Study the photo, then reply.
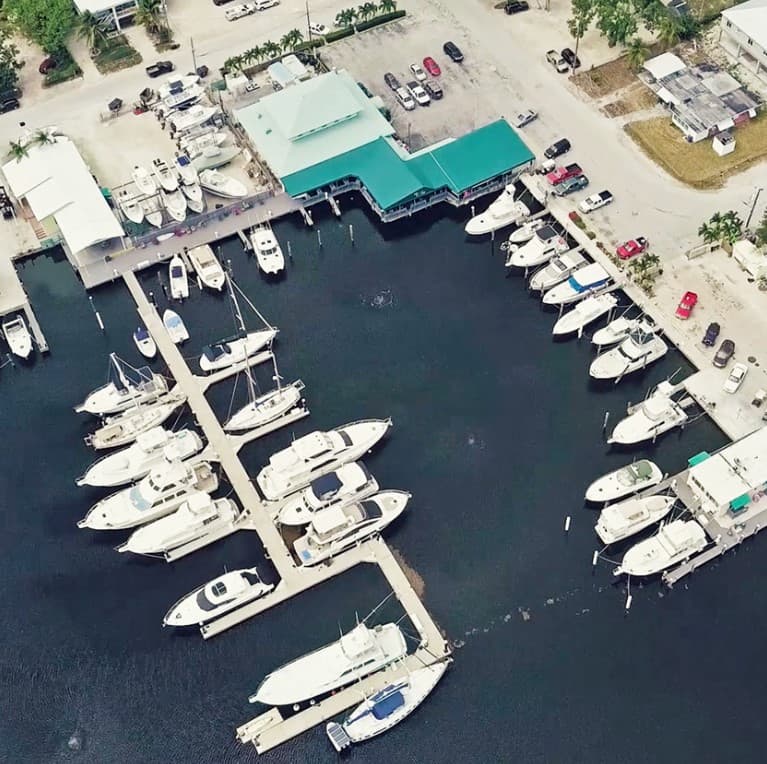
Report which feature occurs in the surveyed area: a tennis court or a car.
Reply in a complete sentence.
I can see a car in this picture.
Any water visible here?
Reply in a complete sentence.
Yes, the picture does contain water.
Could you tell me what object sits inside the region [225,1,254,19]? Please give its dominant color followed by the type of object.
white vehicle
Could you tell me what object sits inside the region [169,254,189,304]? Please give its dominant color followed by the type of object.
white boat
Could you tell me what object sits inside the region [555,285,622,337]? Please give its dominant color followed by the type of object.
white boat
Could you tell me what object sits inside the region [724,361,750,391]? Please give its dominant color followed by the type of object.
white car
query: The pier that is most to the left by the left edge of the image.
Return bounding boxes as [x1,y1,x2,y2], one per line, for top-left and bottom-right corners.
[22,303,49,358]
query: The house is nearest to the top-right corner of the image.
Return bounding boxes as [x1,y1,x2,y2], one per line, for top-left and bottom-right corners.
[715,1,767,88]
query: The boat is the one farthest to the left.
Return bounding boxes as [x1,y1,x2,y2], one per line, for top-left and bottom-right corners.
[1,317,29,360]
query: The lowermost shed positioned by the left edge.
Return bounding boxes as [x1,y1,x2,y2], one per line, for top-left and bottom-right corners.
[1,141,125,275]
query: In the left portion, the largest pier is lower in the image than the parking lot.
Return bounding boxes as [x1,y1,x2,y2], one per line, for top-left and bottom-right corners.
[124,274,454,757]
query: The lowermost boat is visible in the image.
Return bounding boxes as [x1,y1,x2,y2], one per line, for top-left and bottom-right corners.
[327,723,356,759]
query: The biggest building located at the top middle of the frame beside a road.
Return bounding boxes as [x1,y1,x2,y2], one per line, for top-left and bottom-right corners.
[233,69,535,228]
